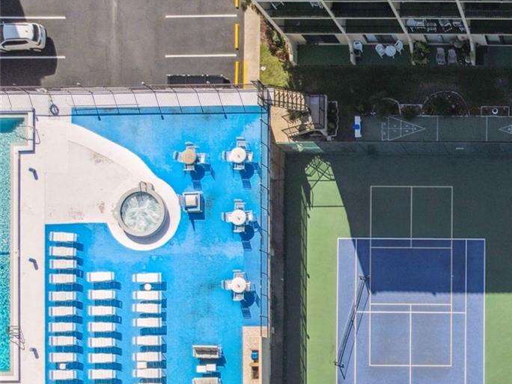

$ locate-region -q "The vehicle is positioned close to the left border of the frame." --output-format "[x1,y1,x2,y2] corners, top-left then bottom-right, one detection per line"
[0,19,47,53]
